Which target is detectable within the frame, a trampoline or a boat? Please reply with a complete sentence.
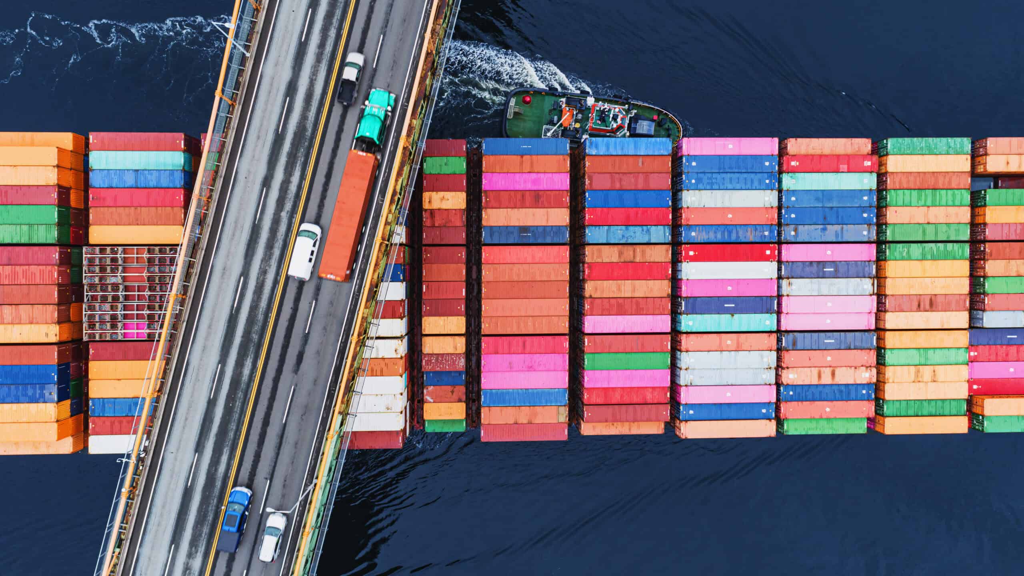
I can see a boat in this picture.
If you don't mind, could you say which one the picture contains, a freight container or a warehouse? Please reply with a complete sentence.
I can see a freight container in this picture.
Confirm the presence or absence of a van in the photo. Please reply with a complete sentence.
Yes, there's a van here.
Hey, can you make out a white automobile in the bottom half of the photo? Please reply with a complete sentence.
Yes, you'll find a white automobile in the bottom half of the photo.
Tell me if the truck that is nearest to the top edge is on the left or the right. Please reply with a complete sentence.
You can find the truck that is nearest to the top edge on the left side of the picture.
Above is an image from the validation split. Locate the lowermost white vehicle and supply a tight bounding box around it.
[257,509,289,563]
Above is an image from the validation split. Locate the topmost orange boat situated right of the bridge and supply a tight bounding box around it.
[561,108,574,127]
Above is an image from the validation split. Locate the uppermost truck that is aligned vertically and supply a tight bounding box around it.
[335,51,367,109]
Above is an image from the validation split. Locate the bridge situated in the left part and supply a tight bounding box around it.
[97,0,460,576]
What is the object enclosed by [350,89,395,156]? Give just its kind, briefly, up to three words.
truck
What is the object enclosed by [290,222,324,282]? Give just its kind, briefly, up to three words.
van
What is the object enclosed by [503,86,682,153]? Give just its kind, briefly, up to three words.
boat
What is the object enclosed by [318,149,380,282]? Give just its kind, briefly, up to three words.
shipping container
